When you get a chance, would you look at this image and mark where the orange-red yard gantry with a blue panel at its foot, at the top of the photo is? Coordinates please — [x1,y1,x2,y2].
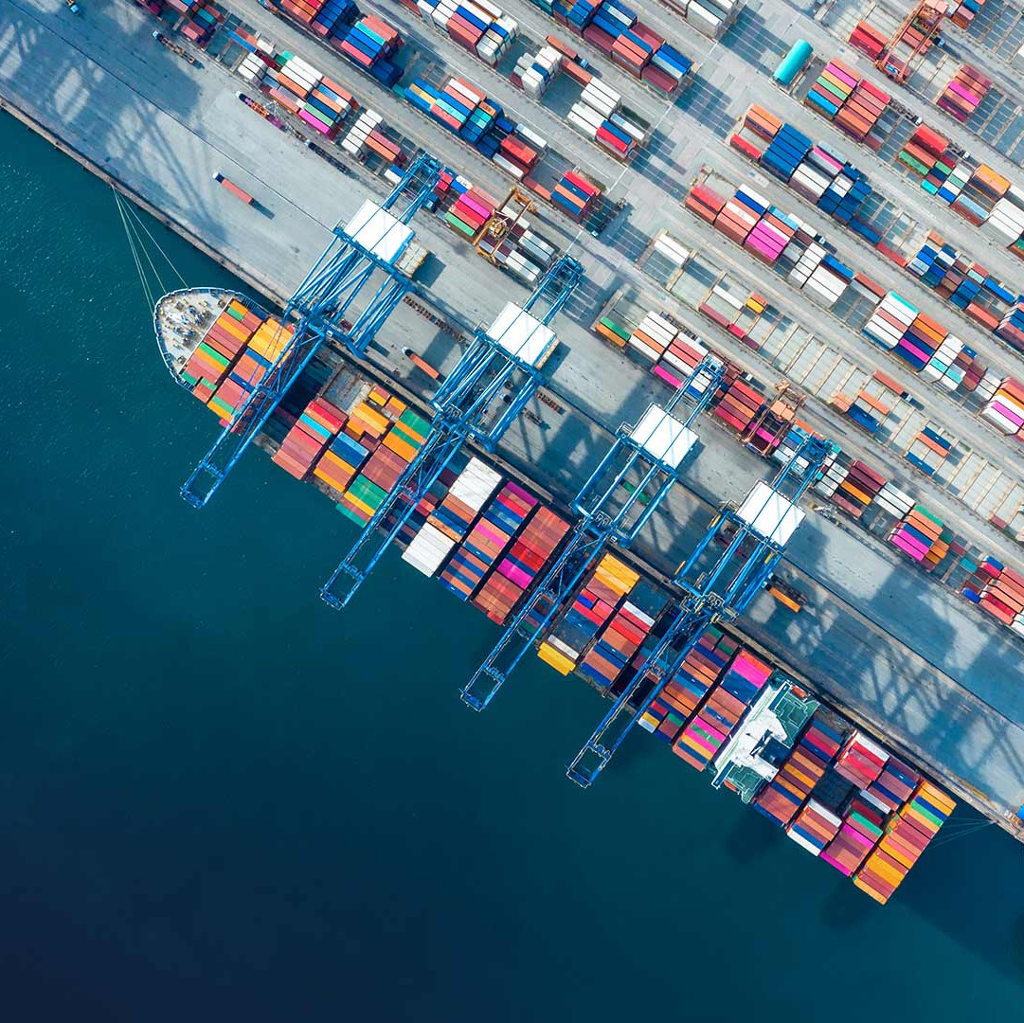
[869,7,943,103]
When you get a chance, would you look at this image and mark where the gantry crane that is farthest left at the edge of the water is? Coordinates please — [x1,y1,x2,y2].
[179,151,445,511]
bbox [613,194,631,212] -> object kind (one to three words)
work vehicle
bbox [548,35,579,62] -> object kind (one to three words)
shipping container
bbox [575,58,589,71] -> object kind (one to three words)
vehicle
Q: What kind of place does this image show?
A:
port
